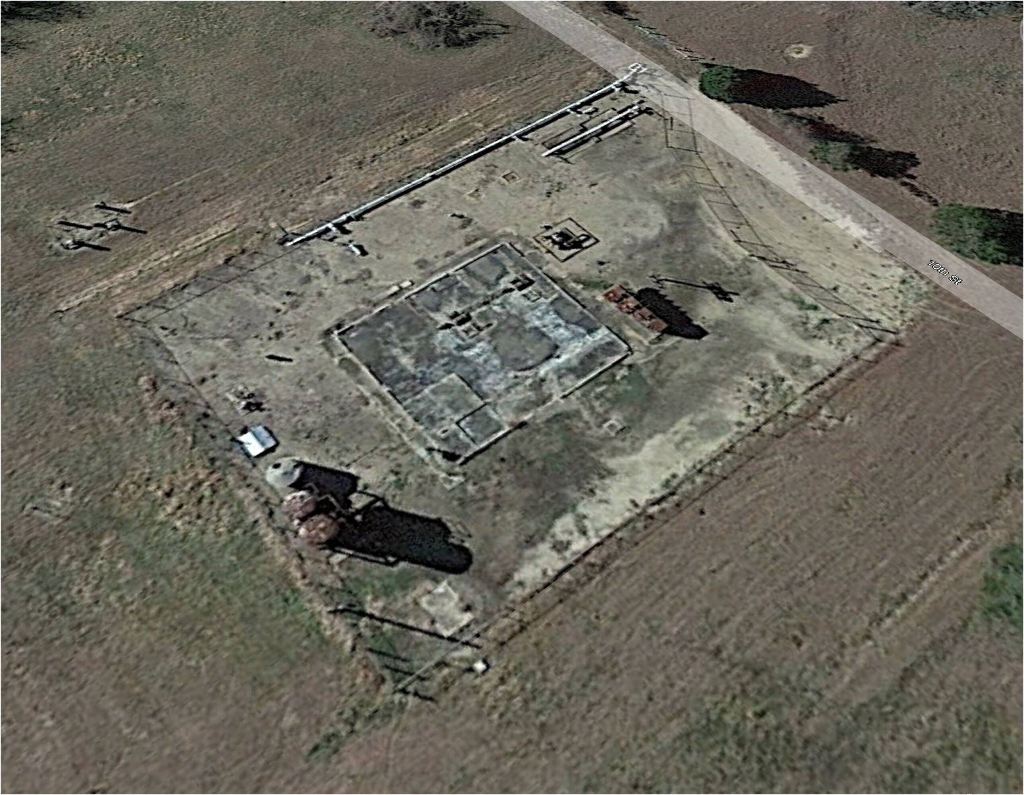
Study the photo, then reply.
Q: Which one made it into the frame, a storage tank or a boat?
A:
storage tank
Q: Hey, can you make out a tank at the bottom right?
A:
No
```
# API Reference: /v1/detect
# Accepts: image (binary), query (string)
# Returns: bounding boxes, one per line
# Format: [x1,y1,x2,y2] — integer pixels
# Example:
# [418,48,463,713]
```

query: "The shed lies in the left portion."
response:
[238,425,276,457]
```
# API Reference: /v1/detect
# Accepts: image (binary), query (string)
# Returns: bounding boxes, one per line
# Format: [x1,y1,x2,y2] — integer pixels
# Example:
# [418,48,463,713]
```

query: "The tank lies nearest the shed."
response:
[264,455,301,493]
